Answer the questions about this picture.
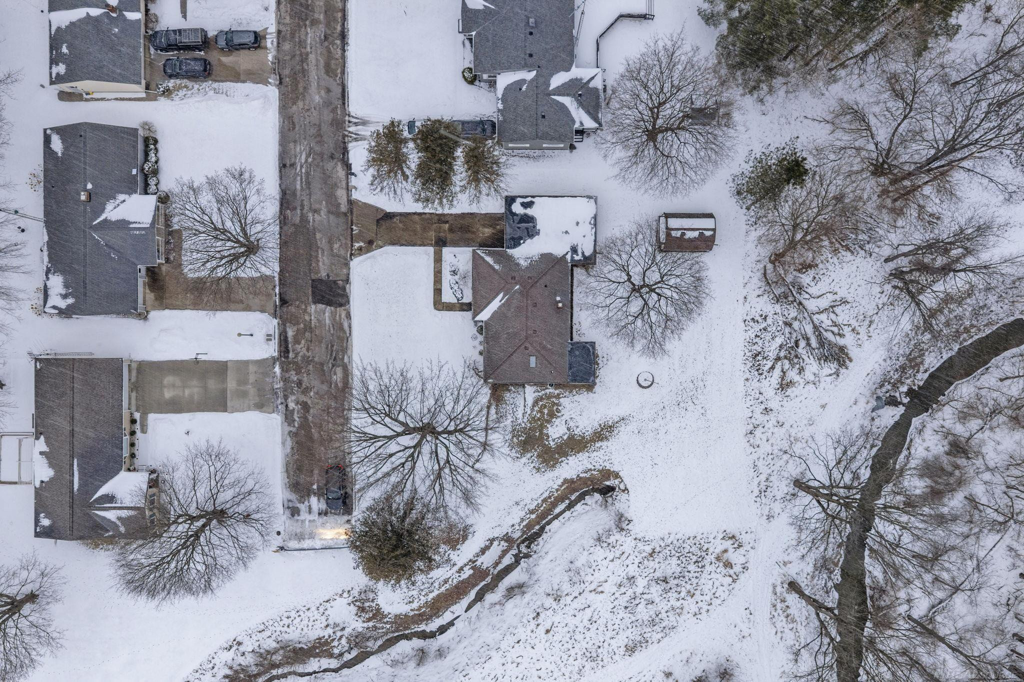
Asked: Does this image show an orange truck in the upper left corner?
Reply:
No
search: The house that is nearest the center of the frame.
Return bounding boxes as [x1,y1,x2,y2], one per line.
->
[472,195,596,385]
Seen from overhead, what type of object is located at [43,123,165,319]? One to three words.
house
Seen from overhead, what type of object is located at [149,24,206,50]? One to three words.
truck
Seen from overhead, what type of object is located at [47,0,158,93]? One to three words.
house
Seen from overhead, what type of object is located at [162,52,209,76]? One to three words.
car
